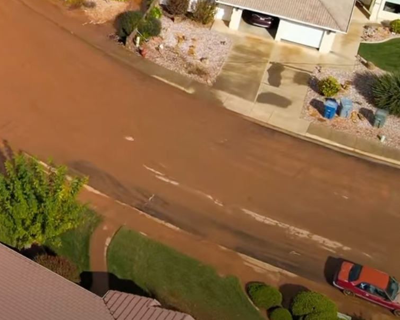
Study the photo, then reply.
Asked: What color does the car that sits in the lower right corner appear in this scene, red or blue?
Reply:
red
